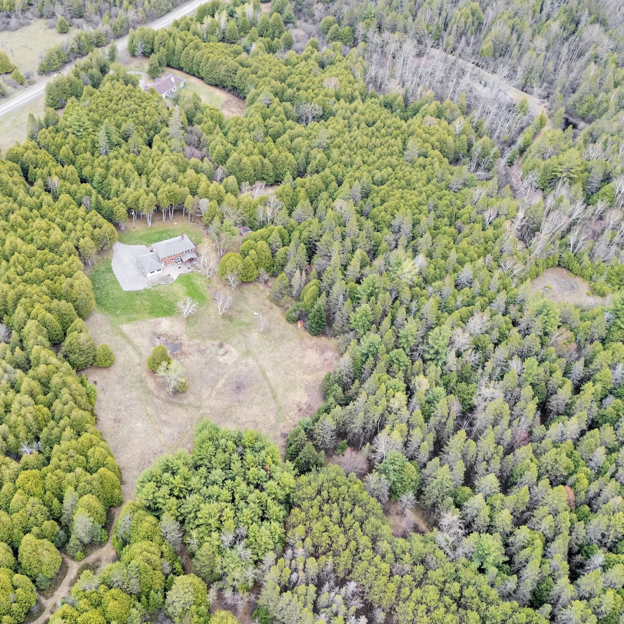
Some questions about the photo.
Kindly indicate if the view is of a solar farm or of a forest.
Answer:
forest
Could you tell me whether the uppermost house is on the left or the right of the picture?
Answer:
left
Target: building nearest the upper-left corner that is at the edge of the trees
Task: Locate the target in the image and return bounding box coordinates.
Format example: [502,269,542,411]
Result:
[141,73,185,100]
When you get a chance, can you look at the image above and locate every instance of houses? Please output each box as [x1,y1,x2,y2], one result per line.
[141,73,185,100]
[140,233,199,281]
